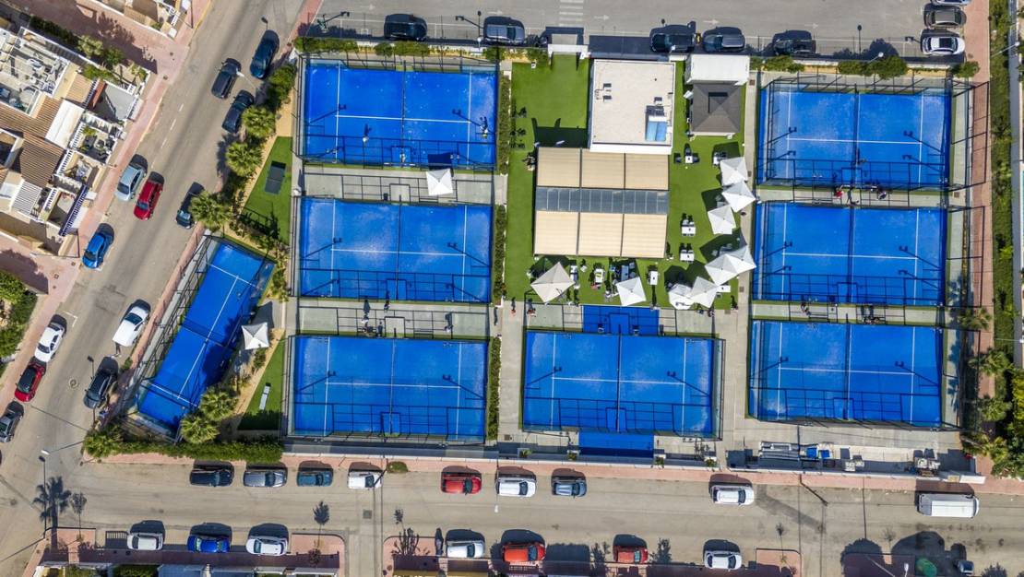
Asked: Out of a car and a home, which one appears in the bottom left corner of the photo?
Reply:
car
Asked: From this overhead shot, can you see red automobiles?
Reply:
Yes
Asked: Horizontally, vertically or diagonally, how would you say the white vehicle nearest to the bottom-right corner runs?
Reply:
horizontally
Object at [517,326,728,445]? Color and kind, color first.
blue sports court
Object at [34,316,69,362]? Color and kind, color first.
white car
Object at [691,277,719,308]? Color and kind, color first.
white umbrella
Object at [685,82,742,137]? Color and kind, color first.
gray tent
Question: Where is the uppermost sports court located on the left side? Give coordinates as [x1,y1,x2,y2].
[294,45,505,174]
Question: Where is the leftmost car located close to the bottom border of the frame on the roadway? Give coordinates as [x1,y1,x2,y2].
[126,530,167,552]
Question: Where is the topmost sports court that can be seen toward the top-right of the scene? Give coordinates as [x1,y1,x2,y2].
[753,69,990,196]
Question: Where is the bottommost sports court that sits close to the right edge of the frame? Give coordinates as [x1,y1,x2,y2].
[745,316,980,435]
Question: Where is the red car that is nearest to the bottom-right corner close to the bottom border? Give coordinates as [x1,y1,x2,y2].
[613,544,649,566]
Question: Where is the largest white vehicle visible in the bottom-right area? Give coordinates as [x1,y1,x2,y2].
[912,493,974,520]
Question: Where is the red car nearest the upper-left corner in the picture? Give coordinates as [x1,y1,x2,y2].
[133,176,167,220]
